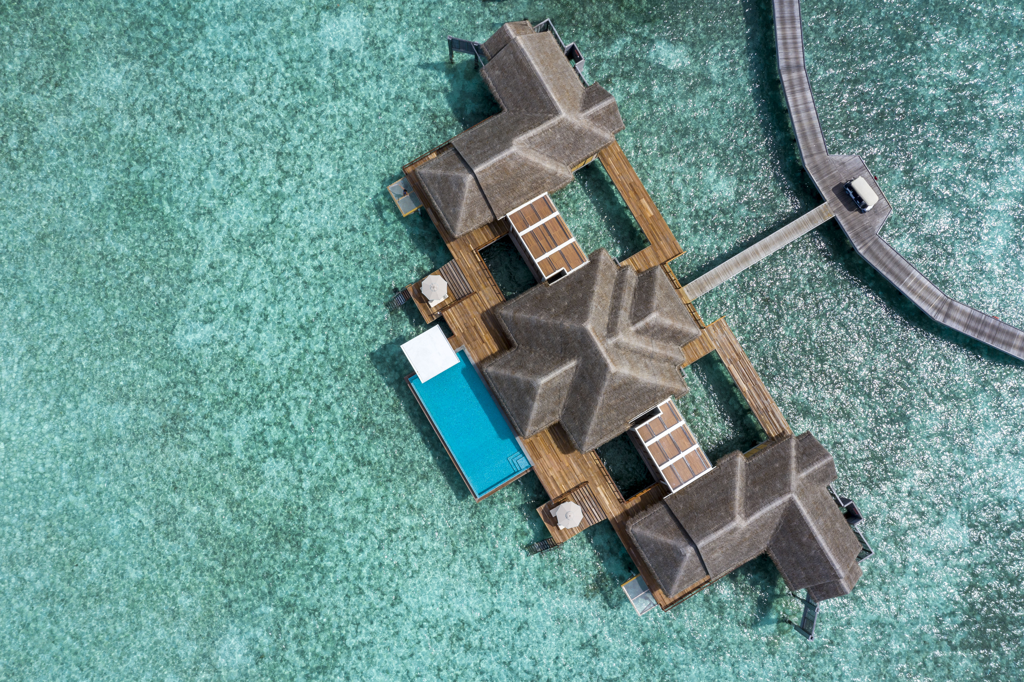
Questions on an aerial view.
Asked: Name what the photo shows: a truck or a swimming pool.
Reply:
swimming pool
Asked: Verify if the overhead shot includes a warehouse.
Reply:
No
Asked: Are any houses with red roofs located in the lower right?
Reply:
No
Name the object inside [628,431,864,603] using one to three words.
house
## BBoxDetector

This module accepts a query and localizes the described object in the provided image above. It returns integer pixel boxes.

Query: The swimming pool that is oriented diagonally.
[404,342,535,503]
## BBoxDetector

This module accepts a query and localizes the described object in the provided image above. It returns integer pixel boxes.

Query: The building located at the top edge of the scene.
[416,19,625,239]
